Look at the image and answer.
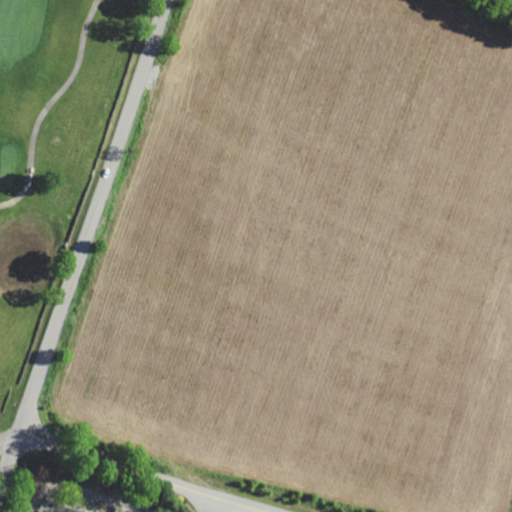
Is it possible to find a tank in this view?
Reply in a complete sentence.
No, there appears to be no tank in this shot.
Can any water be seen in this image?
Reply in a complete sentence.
No, there is no water in the image.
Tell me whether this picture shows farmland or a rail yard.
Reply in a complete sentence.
The area seen from above is farmland.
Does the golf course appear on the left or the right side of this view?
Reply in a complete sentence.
The golf course sits on the left side.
